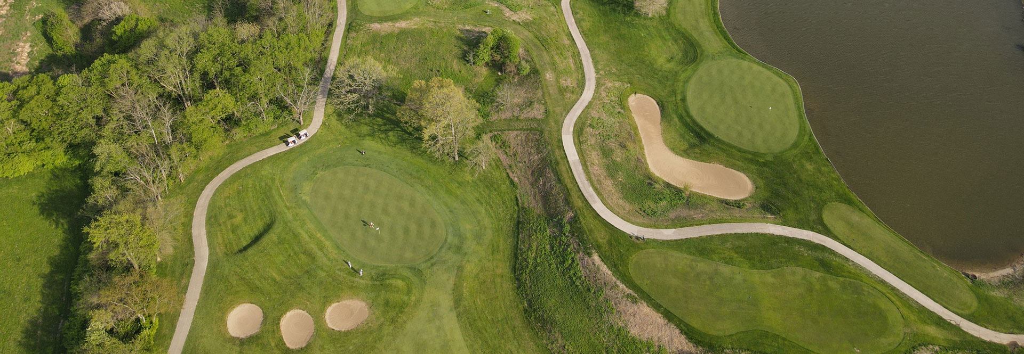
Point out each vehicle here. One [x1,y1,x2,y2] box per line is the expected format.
[284,136,297,148]
[297,129,309,141]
